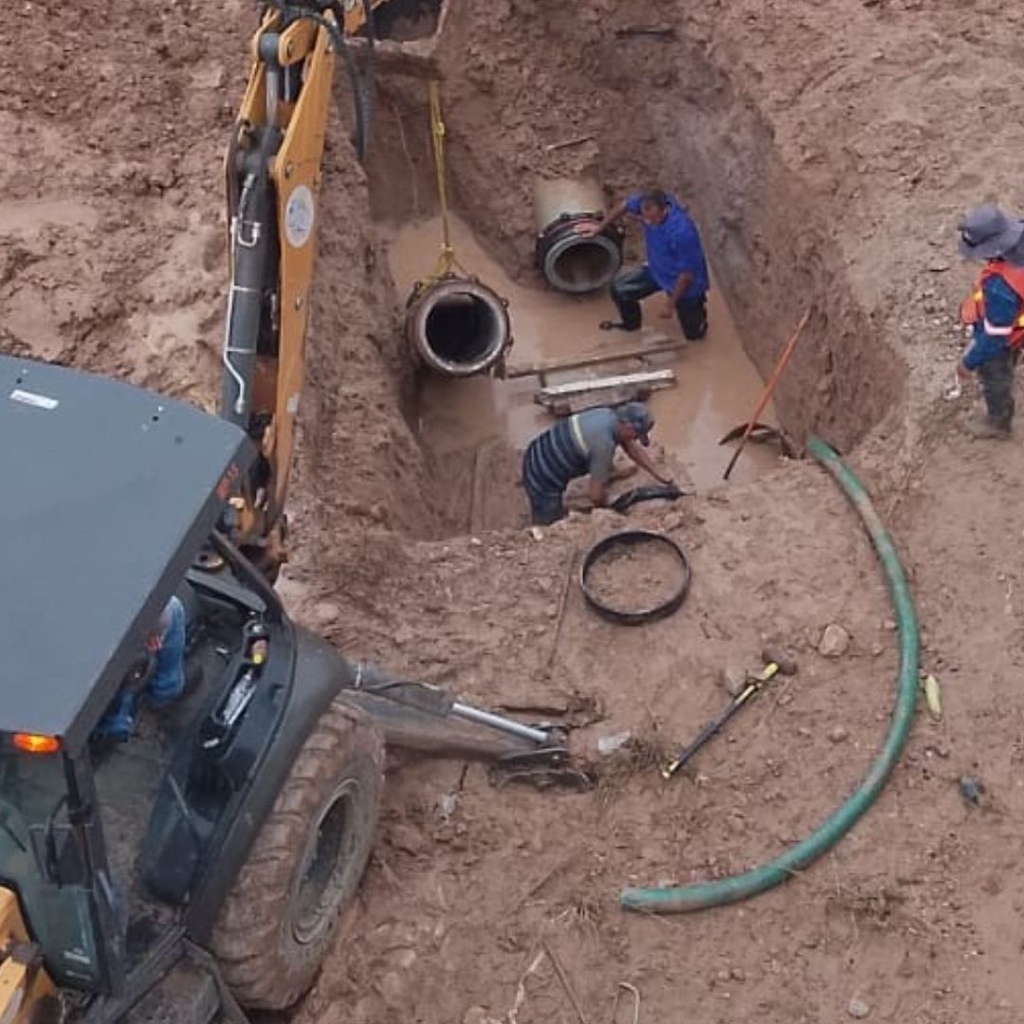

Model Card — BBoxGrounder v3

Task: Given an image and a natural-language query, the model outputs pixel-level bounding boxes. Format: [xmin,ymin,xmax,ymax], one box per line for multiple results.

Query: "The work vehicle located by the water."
[0,0,590,1024]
